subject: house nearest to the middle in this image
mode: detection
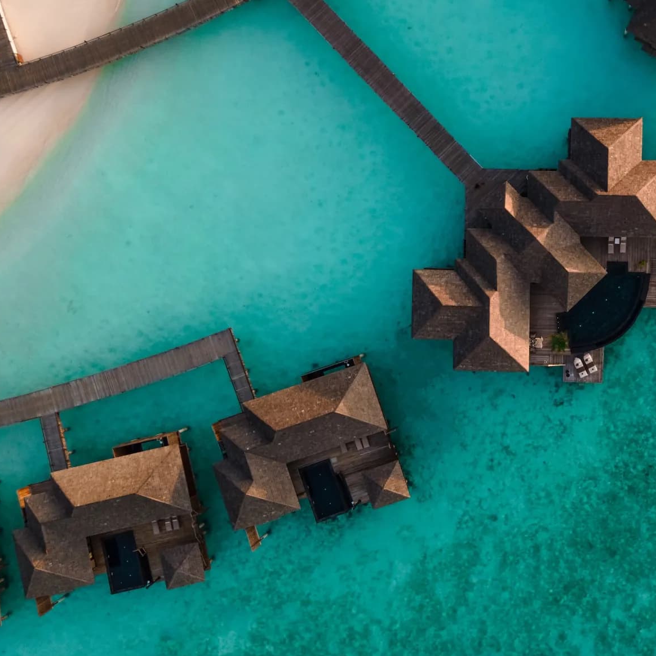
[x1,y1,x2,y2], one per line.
[210,351,411,551]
